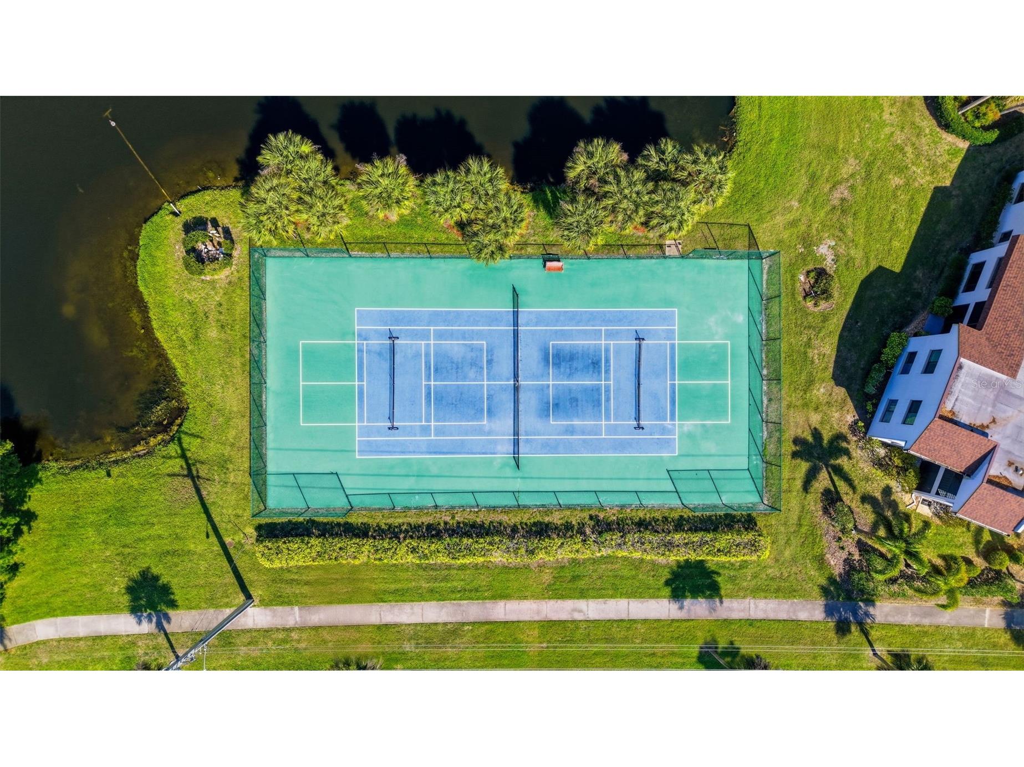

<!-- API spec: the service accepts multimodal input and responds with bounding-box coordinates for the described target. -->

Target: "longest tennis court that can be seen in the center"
[265,257,764,510]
